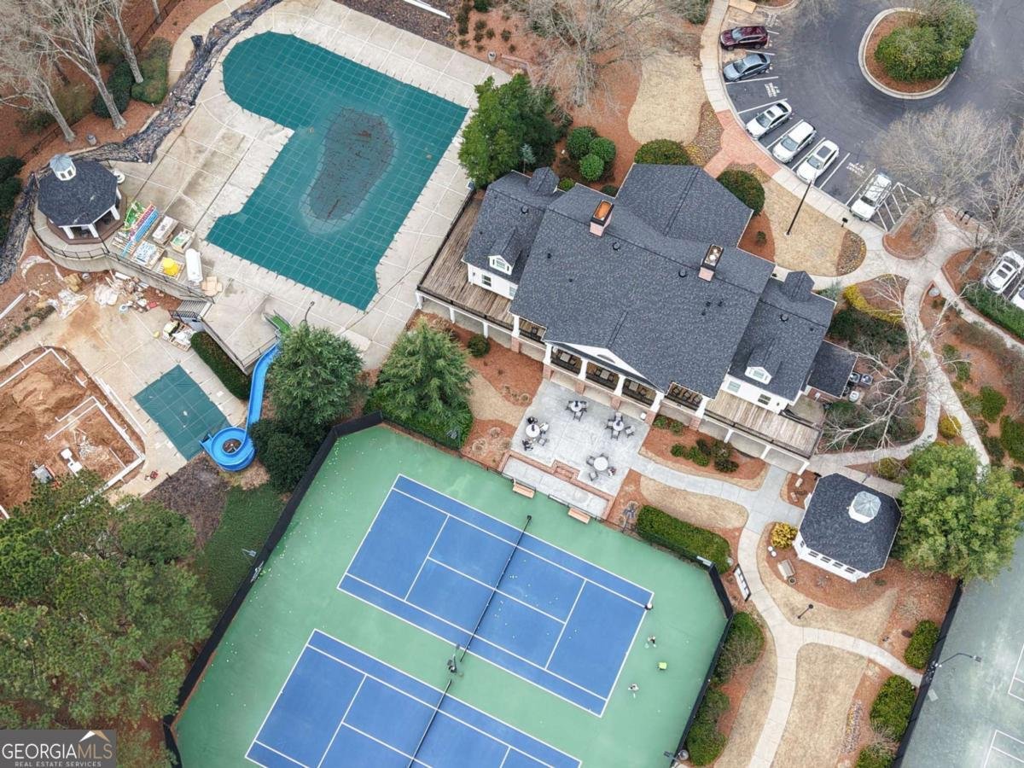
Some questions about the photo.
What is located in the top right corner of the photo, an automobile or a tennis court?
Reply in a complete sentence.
The feature located in the top right corner of the photo is an automobile.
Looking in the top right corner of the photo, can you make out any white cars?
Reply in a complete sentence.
Yes, a white car shows up in the top right corner of the photo.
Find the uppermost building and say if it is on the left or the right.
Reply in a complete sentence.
It is on the left.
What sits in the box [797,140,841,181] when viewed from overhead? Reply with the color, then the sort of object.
white car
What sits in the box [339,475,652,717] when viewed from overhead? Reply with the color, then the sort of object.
blue tennis court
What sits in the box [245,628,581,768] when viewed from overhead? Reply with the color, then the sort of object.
blue tennis court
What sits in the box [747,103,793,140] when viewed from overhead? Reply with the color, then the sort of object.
white car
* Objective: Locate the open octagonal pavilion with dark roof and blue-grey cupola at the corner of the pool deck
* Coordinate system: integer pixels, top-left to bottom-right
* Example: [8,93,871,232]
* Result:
[34,158,129,244]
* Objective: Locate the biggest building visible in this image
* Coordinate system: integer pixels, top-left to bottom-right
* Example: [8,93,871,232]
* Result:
[414,162,833,476]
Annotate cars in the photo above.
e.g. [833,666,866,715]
[747,103,793,140]
[852,172,895,219]
[775,122,817,161]
[981,248,1024,292]
[720,25,768,50]
[797,140,841,181]
[1007,278,1024,309]
[723,53,771,83]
